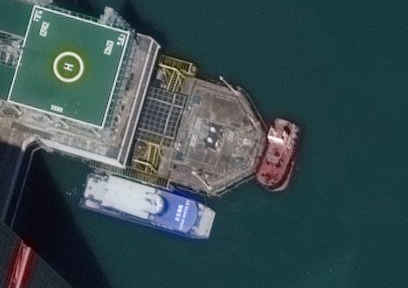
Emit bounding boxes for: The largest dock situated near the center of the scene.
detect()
[157,75,272,204]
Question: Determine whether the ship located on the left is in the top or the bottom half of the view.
bottom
